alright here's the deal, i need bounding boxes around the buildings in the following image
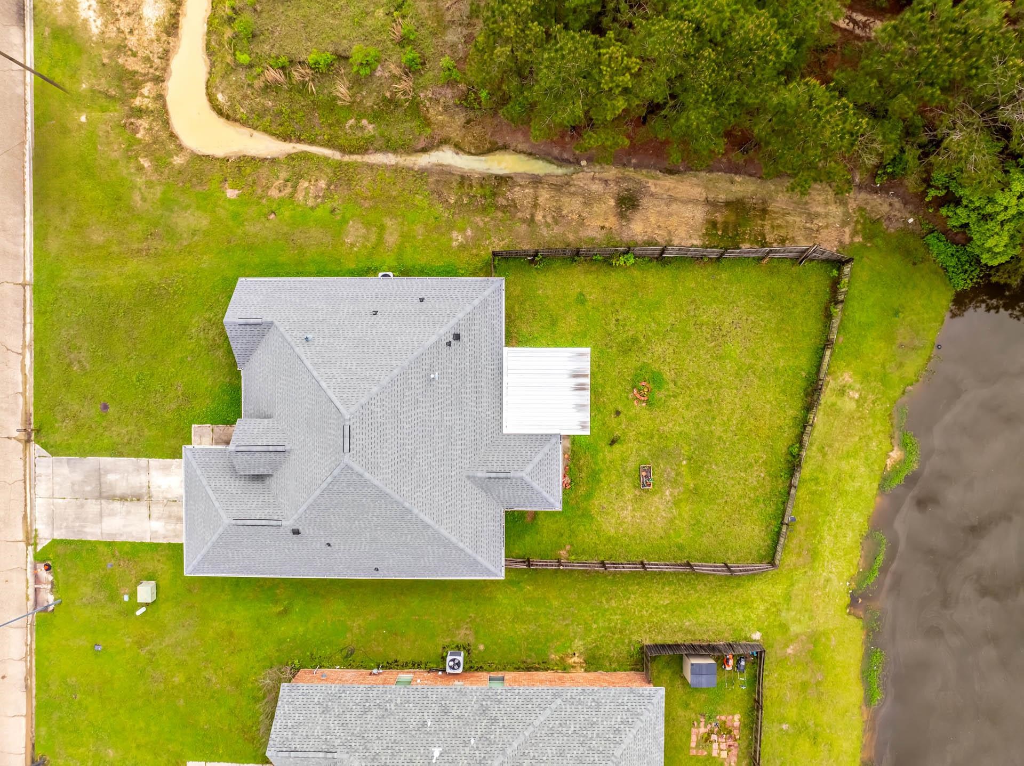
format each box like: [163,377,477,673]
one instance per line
[183,276,562,580]
[268,668,666,766]
[684,652,716,687]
